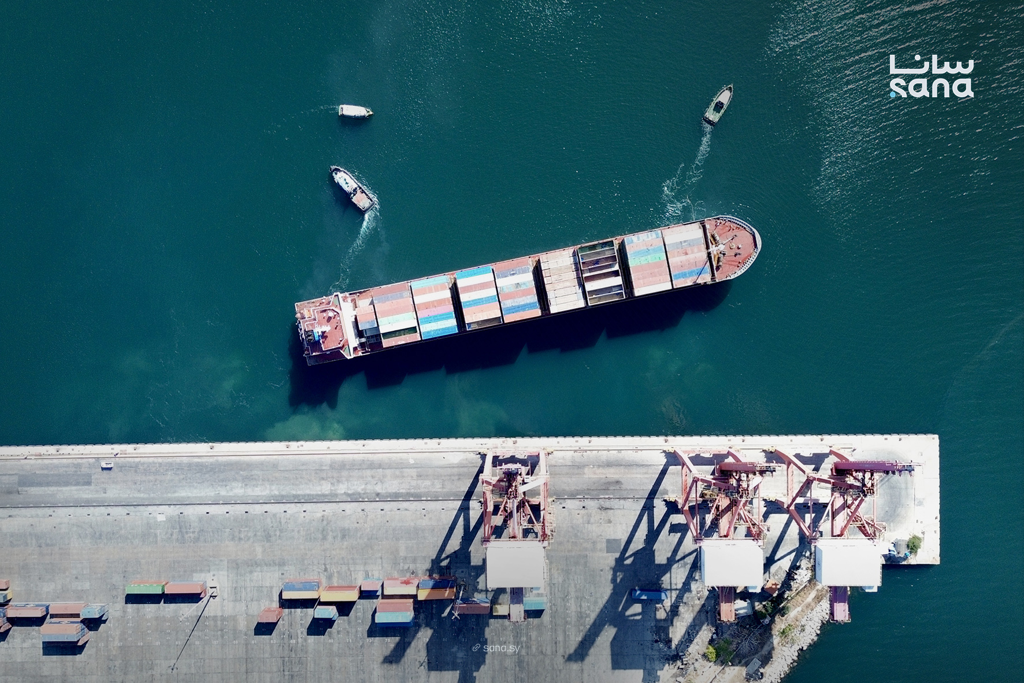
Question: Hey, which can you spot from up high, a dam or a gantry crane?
gantry crane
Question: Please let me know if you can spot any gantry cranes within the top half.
No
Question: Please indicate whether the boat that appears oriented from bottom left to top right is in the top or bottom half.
top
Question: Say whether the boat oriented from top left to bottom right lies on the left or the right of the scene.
left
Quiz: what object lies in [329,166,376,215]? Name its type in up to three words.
boat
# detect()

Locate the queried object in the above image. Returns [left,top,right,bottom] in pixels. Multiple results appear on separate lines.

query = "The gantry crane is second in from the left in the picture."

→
[662,448,790,622]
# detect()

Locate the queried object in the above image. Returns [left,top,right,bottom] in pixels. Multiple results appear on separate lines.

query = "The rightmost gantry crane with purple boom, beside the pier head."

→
[763,448,931,622]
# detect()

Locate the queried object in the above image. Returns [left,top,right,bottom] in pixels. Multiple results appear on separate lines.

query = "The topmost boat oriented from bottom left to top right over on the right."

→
[704,84,733,128]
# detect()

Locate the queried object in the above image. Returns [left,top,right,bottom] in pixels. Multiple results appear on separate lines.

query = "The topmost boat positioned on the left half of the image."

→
[339,104,373,119]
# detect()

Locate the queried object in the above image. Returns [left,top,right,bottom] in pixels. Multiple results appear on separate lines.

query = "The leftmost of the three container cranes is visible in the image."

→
[476,448,557,622]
